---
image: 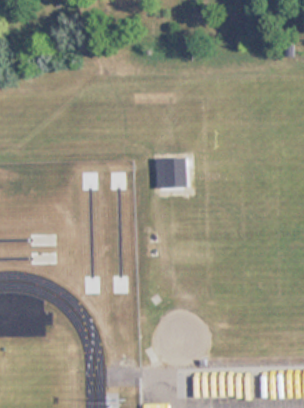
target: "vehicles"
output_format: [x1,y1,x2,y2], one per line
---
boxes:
[210,372,218,399]
[245,374,252,400]
[144,403,170,408]
[278,372,285,399]
[202,372,209,399]
[227,372,234,399]
[219,372,226,399]
[236,372,243,400]
[194,372,200,399]
[286,372,293,398]
[260,372,268,399]
[269,372,276,399]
